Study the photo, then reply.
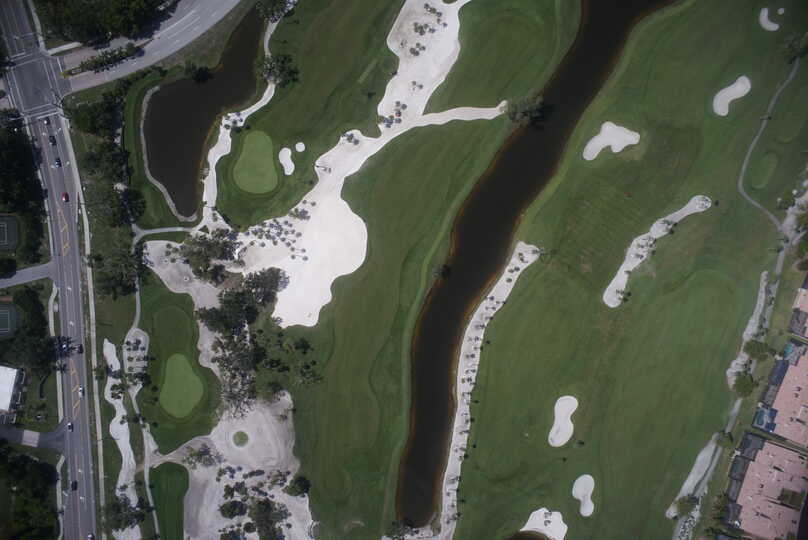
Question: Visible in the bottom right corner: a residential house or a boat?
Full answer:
The one visible in the bottom right corner is a residential house.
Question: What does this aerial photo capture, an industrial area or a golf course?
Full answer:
This looks like a golf course.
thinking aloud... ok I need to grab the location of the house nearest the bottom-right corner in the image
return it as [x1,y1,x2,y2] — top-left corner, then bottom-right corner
[723,439,808,540]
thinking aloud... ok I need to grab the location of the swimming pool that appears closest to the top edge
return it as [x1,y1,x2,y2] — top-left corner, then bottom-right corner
[784,343,802,364]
